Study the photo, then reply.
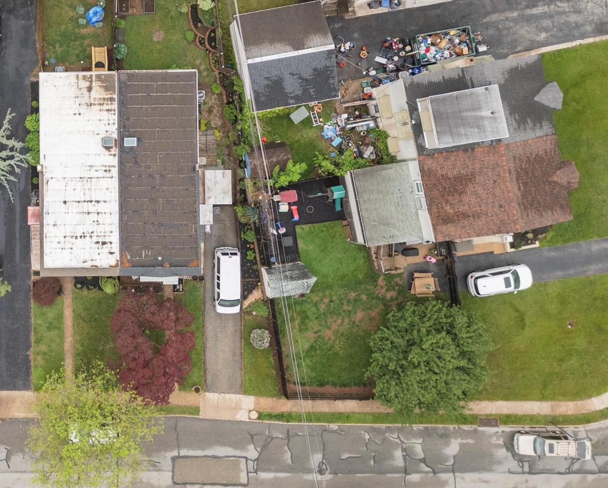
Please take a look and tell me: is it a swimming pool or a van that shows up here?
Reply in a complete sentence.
There is a van in the scene.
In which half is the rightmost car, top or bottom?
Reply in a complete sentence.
You can find the rightmost car in the bottom half.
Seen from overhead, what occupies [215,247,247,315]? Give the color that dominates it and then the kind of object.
white van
